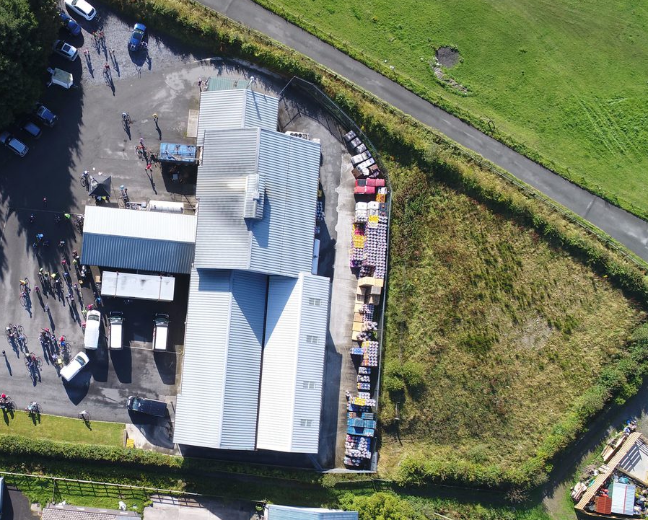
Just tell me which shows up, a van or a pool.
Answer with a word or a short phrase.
van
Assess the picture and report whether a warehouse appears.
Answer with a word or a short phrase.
Yes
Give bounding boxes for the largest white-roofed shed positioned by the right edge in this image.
[604,482,636,515]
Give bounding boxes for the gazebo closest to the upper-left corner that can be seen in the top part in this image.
[88,174,112,197]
